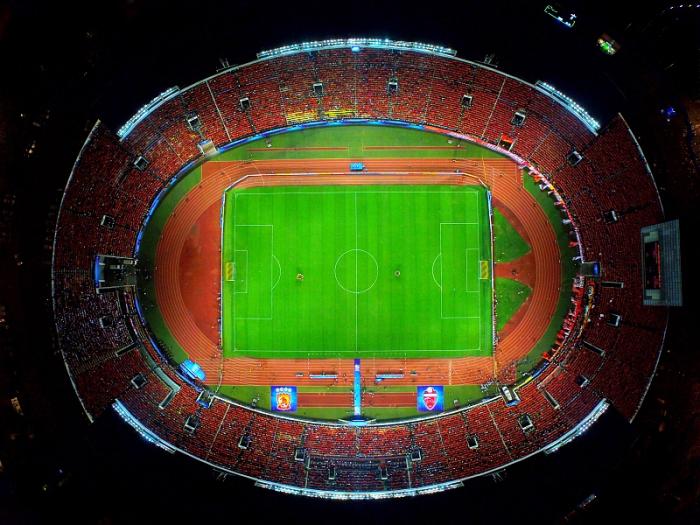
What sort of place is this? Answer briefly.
sports ground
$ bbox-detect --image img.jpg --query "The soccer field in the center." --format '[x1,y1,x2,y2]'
[224,185,491,358]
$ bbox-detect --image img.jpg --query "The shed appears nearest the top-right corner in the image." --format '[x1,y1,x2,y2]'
[598,27,628,51]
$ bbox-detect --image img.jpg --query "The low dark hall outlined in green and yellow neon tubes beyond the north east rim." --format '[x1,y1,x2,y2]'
[542,1,577,31]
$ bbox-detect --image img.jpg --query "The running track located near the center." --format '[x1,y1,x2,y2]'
[154,159,561,386]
